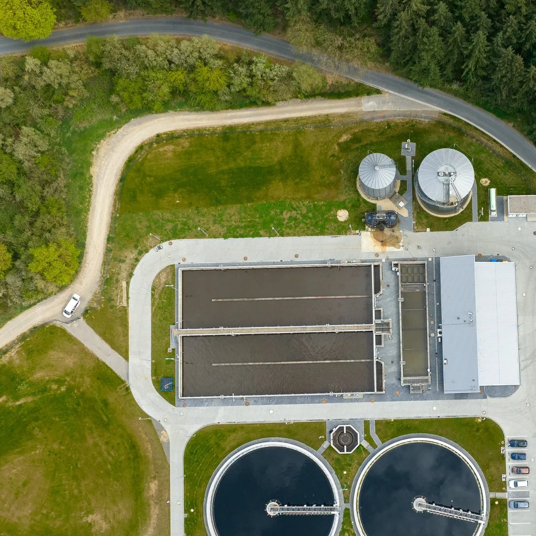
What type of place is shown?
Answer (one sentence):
The picture captures an industrial area.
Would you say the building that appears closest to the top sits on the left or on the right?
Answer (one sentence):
The building that appears closest to the top appears in the right half of the scene.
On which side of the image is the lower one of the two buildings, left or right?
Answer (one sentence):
It is on the right.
